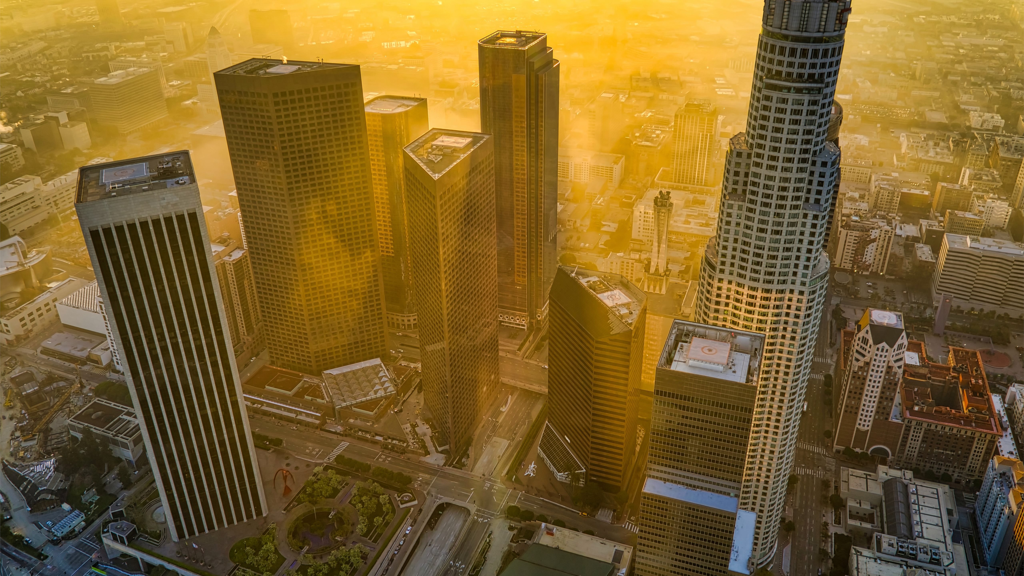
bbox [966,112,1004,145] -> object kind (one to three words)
building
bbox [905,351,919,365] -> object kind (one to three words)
helipad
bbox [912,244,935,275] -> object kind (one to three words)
building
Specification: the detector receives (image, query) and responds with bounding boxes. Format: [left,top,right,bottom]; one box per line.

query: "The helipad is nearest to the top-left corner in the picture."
[103,163,146,183]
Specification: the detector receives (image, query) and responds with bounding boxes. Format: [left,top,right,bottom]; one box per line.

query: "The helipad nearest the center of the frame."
[596,289,632,309]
